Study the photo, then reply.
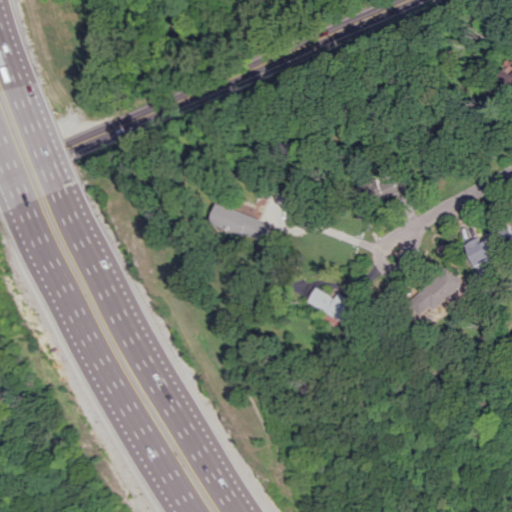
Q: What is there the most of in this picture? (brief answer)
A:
trees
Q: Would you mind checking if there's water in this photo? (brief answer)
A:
No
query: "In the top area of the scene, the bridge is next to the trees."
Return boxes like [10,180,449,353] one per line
[0,82,86,214]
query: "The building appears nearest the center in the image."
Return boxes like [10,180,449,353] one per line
[208,202,265,239]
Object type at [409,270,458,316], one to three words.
house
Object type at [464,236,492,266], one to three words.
house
